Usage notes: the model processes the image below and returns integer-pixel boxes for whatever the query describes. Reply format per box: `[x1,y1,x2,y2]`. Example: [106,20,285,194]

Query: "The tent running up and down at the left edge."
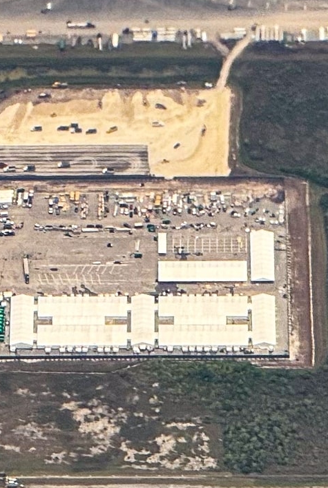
[11,294,35,349]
